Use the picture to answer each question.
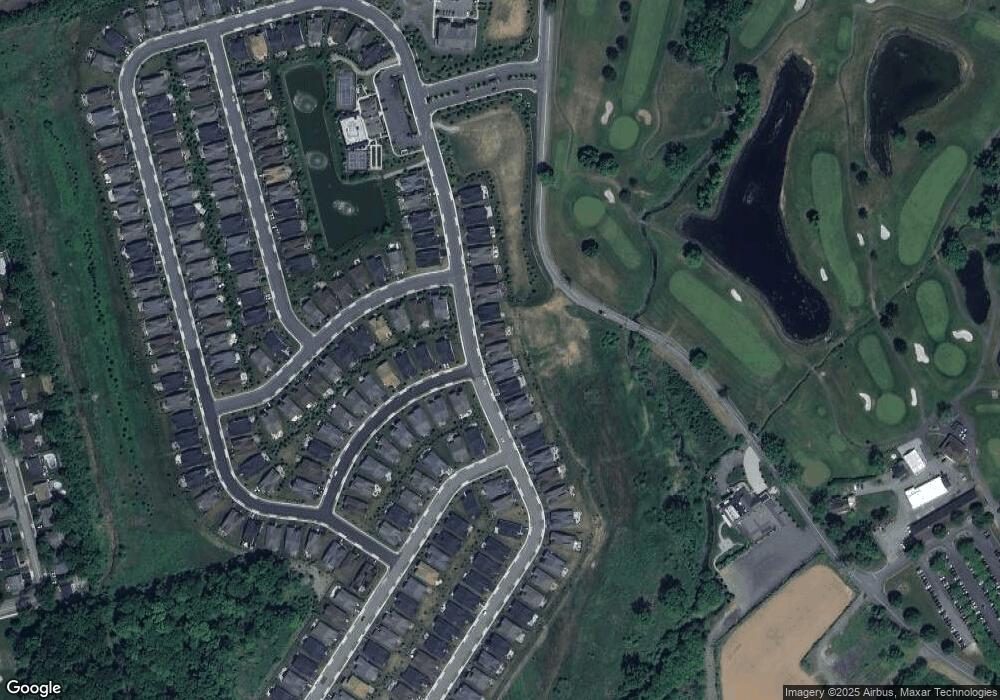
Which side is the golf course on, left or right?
right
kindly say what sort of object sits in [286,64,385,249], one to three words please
pond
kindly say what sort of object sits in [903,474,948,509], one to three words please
barn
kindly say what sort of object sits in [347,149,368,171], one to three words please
sports court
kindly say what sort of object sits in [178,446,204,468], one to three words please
house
